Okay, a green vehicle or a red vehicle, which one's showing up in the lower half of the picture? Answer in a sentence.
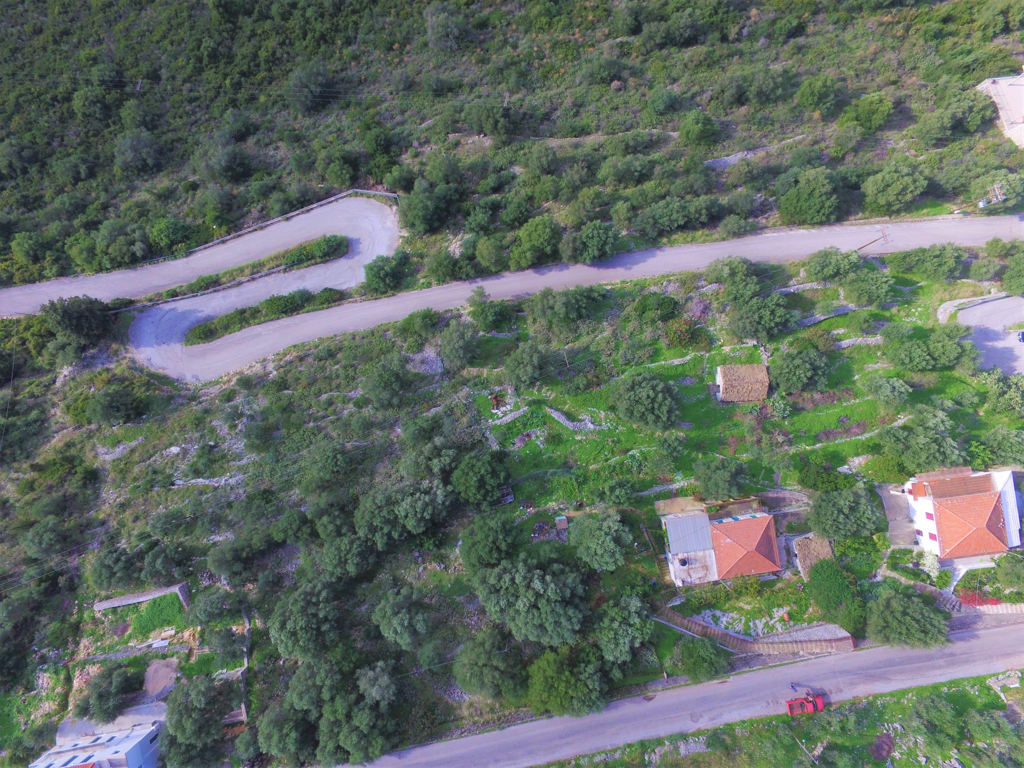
Looking in the lower half of the picture, you will find a red vehicle.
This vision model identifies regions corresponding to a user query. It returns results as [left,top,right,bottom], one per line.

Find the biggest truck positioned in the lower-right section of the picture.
[784,691,824,716]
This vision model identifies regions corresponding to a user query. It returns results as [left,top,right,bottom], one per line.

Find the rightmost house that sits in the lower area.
[902,467,1021,562]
